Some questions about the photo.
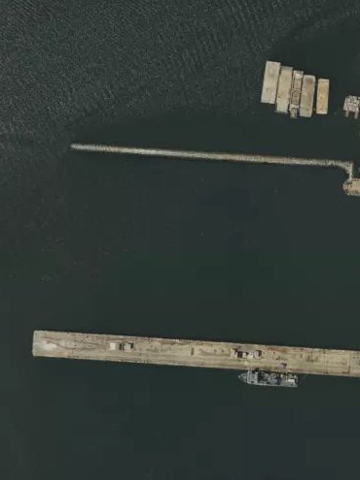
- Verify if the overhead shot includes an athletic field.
No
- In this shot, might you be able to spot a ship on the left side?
No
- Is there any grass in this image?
No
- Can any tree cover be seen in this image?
No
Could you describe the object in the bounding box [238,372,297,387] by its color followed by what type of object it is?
gray ship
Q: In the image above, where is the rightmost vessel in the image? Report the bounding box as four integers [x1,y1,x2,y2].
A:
[316,78,329,114]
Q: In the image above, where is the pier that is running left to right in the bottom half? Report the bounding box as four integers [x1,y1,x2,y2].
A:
[33,330,360,378]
